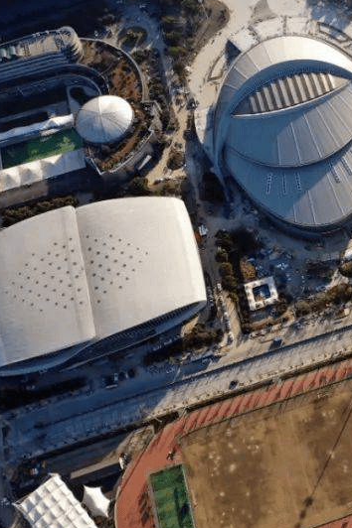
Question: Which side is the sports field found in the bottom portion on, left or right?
right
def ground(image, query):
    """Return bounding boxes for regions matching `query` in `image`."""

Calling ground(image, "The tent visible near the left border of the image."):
[15,474,97,528]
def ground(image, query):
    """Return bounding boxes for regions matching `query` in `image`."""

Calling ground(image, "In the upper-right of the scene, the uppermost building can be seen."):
[211,34,352,244]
